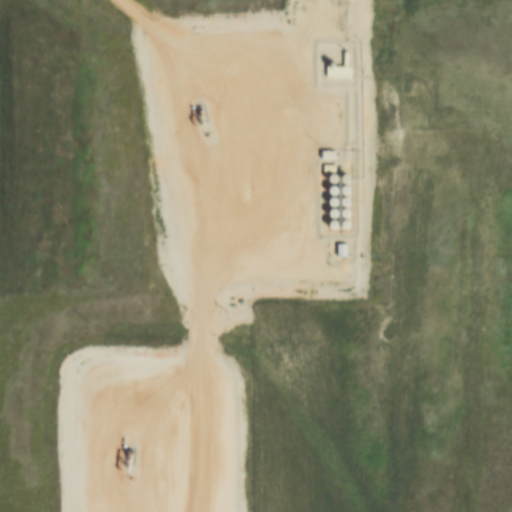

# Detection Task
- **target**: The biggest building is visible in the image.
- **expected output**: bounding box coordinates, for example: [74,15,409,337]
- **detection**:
[330,50,352,78]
